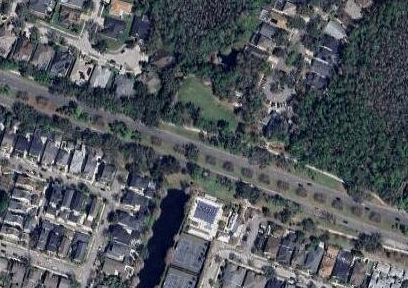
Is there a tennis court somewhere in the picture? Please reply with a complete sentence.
Yes, the image includes a tennis court.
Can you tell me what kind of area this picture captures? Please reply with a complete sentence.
This looks like a residential area.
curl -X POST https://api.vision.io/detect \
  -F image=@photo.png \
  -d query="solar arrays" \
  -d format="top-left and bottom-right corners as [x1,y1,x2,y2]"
[193,199,220,223]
